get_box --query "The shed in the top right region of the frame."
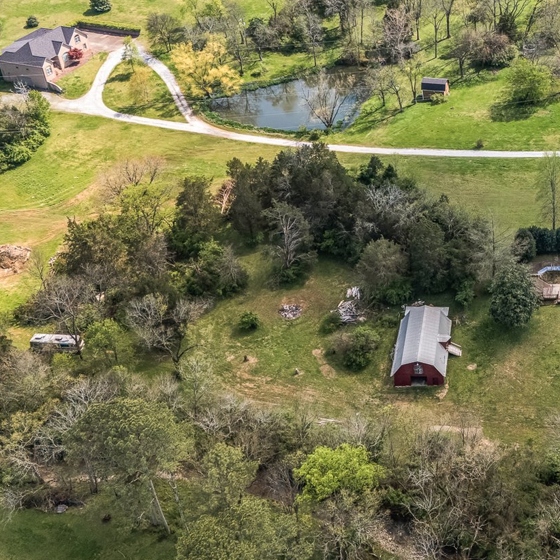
[422,84,446,101]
